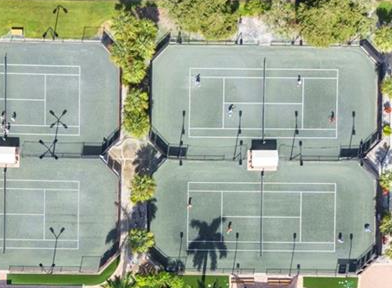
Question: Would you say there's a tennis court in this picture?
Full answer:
Yes, there is a tennis court in the image.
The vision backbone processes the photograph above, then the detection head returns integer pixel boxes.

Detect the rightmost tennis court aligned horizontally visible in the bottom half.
[150,159,376,270]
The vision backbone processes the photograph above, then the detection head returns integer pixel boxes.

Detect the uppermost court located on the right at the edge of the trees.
[150,45,377,158]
